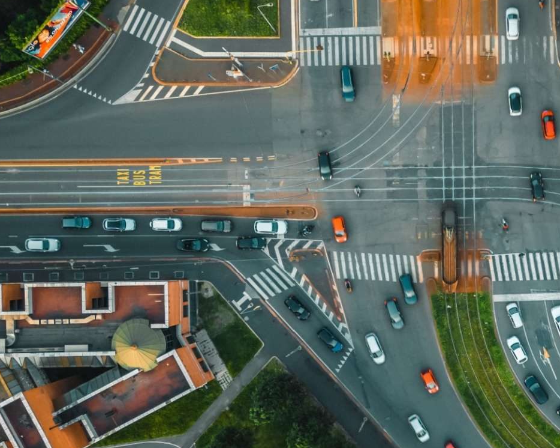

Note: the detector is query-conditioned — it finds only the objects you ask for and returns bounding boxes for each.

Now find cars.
[25,236,62,252]
[148,216,183,233]
[540,109,556,141]
[551,304,560,341]
[253,218,288,235]
[58,214,92,231]
[318,151,334,181]
[333,215,349,243]
[340,65,355,104]
[443,438,459,448]
[177,236,211,252]
[506,334,526,366]
[419,367,439,396]
[386,297,404,331]
[315,324,345,353]
[364,331,386,366]
[200,218,232,234]
[282,294,313,322]
[101,217,137,233]
[400,272,416,306]
[507,86,523,116]
[506,301,523,329]
[530,170,544,200]
[524,371,548,405]
[407,412,430,445]
[235,235,268,252]
[504,6,521,41]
